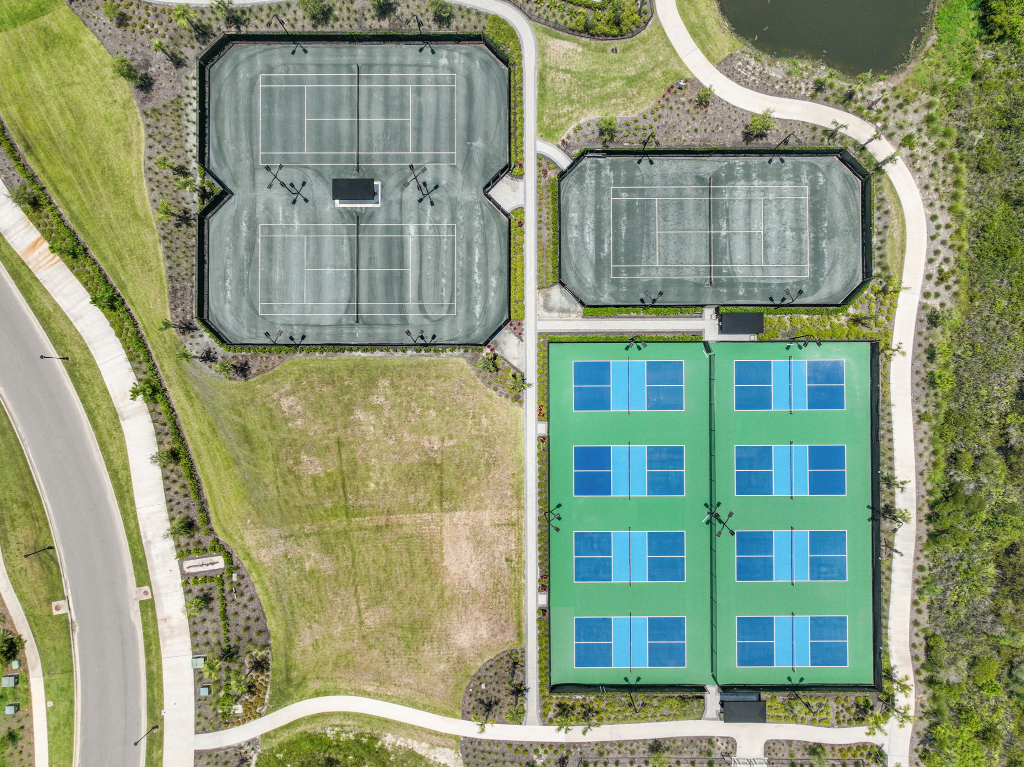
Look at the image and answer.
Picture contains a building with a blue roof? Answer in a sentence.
No, I can't see a single building with a blue roof in this photo.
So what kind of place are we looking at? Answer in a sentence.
The picture captures a sports ground.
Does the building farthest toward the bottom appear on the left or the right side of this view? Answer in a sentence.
You can find the building farthest toward the bottom on the right side of the picture.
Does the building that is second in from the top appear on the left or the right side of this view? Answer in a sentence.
It is on the right.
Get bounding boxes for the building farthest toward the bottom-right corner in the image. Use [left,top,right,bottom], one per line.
[719,693,767,724]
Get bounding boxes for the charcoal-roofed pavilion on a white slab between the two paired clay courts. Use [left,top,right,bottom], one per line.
[332,178,380,207]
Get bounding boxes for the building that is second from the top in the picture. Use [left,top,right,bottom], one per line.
[717,312,764,335]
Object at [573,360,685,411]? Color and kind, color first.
blue sports court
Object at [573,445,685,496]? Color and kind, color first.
blue sports court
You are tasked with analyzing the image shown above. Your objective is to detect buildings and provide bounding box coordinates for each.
[717,312,764,335]
[332,178,380,207]
[719,693,767,724]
